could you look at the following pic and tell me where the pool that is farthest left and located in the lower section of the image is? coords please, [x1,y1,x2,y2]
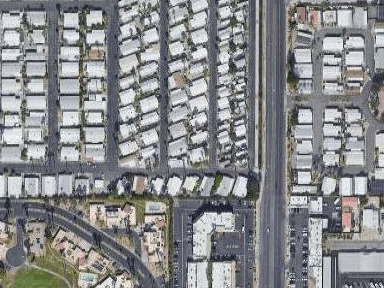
[79,271,98,286]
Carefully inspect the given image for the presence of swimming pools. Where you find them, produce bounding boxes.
[79,271,98,286]
[147,202,164,213]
